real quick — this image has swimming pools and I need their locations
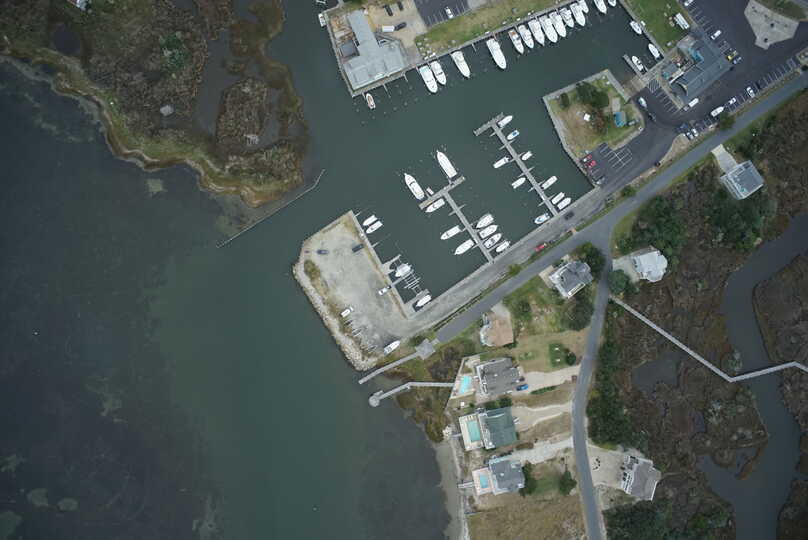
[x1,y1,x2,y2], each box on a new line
[459,414,484,451]
[451,358,479,399]
[473,468,495,496]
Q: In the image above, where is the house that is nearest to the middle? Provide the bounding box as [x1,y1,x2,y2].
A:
[479,311,516,347]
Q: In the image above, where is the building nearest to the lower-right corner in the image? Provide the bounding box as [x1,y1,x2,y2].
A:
[619,454,663,501]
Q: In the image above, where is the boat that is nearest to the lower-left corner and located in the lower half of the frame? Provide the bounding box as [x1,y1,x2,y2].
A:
[383,342,400,355]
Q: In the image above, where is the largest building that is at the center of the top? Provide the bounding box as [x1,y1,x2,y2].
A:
[344,6,407,90]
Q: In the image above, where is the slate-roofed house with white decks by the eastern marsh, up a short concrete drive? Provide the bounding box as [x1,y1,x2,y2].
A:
[718,160,766,201]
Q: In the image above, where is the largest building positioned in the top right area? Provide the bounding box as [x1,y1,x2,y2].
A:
[670,33,733,103]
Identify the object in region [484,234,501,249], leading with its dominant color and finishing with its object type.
white boat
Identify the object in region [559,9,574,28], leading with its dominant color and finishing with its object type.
white boat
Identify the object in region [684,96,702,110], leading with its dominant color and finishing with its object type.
white vehicle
